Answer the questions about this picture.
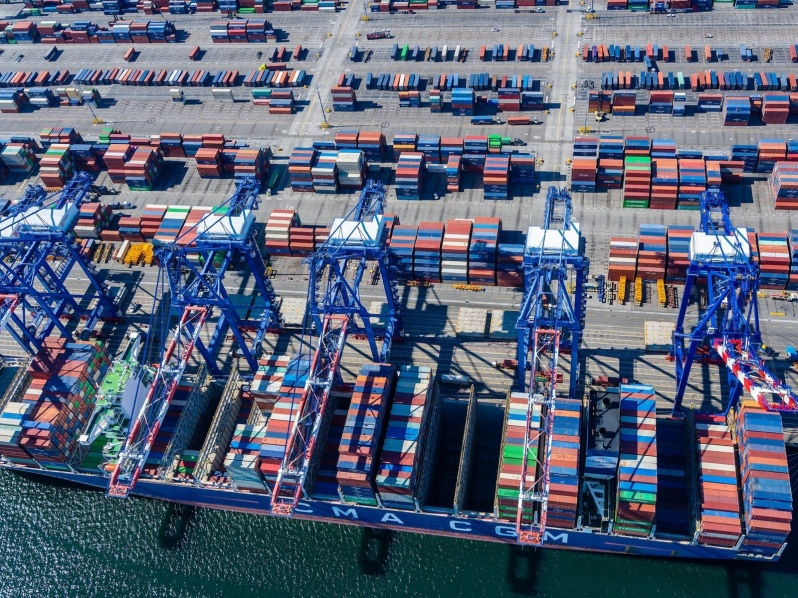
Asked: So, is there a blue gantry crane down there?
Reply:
Yes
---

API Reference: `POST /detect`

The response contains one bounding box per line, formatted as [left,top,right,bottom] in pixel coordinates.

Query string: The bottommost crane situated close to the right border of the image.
[663,193,798,420]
